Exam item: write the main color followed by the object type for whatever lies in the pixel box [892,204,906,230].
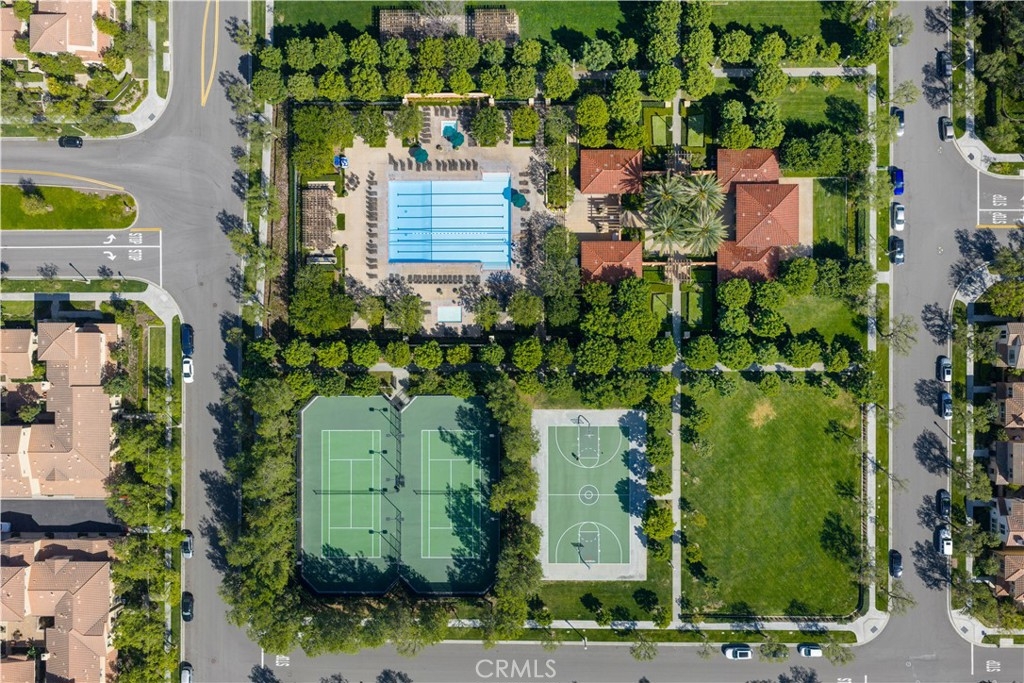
white car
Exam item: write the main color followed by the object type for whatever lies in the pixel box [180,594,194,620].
black car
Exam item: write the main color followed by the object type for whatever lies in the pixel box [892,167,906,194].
blue car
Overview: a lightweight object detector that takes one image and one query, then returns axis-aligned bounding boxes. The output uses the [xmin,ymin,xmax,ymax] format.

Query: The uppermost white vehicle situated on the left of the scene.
[180,358,194,383]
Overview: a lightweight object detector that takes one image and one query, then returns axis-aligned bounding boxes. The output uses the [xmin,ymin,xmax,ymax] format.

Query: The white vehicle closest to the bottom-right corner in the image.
[938,526,954,558]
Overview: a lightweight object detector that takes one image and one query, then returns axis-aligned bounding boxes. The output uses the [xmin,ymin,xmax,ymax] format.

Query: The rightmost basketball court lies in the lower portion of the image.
[532,409,647,580]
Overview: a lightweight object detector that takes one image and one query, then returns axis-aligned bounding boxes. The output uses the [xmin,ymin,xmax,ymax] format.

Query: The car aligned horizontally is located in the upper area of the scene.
[56,134,83,147]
